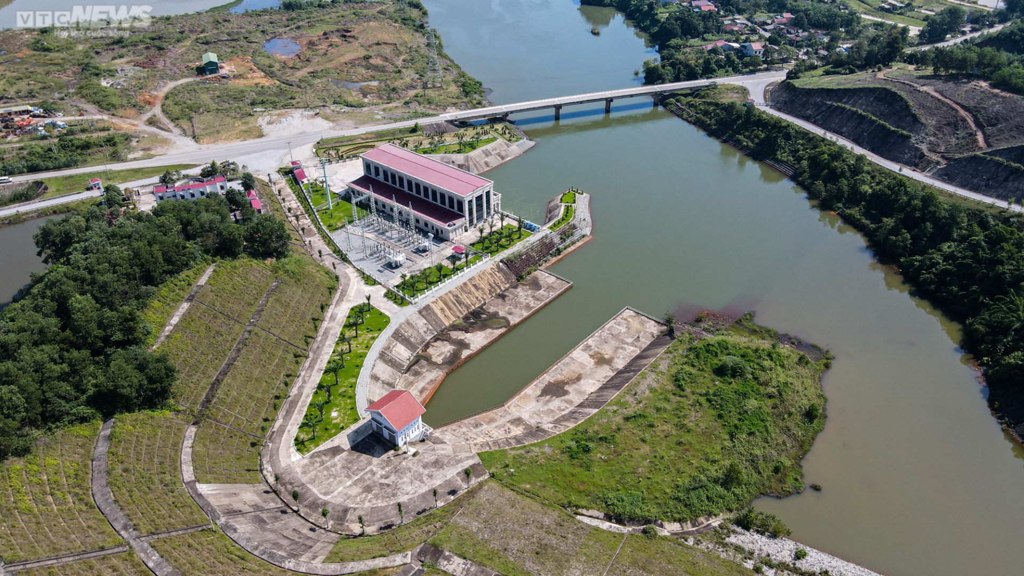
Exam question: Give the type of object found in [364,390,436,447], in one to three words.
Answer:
building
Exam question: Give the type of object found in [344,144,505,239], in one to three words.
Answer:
building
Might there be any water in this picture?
Yes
